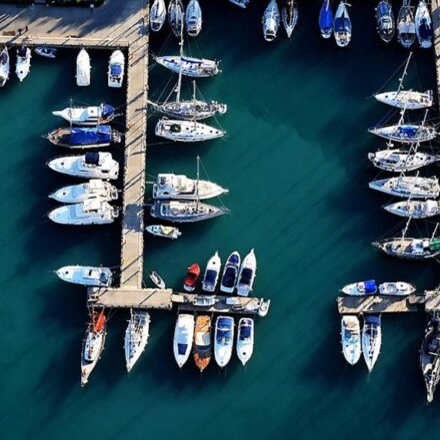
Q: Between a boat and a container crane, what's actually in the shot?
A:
boat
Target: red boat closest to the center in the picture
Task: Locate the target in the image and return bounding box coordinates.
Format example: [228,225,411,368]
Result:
[185,262,200,295]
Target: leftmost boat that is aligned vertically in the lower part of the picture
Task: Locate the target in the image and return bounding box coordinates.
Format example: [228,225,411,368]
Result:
[82,301,104,391]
